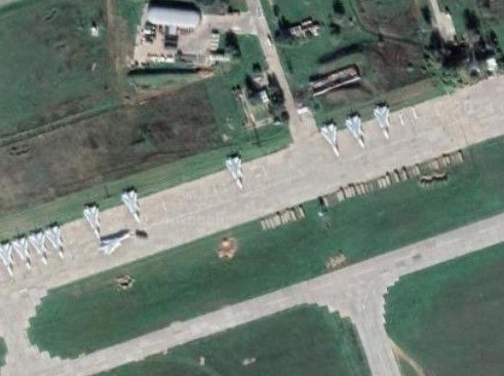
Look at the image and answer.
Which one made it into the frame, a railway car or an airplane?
airplane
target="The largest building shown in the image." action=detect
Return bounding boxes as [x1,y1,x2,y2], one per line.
[147,2,202,34]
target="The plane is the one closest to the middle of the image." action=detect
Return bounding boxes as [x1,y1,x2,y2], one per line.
[227,156,242,188]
